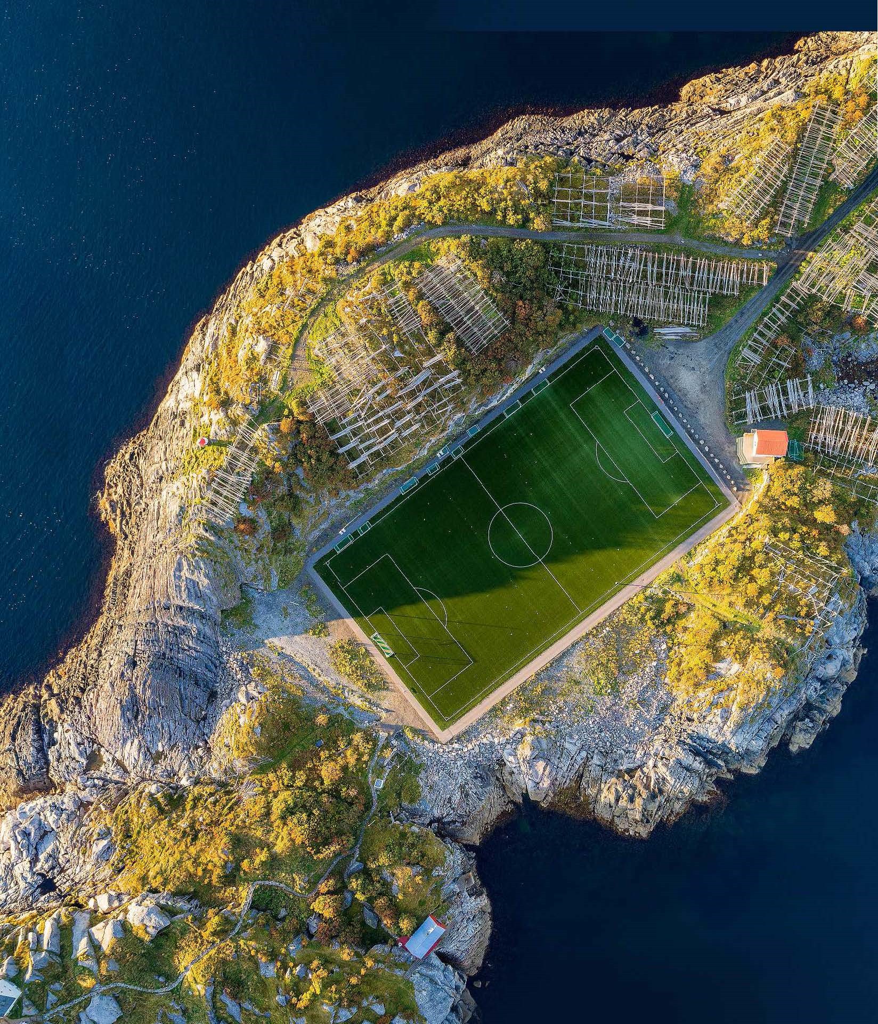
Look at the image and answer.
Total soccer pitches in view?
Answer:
one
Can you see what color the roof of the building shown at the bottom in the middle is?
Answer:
blue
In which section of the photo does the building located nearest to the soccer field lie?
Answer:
right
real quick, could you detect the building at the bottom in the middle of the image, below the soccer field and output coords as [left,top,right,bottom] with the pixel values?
[402,912,445,956]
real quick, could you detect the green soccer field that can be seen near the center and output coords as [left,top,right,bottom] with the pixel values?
[313,338,730,731]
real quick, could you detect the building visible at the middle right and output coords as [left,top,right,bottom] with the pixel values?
[737,430,790,468]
